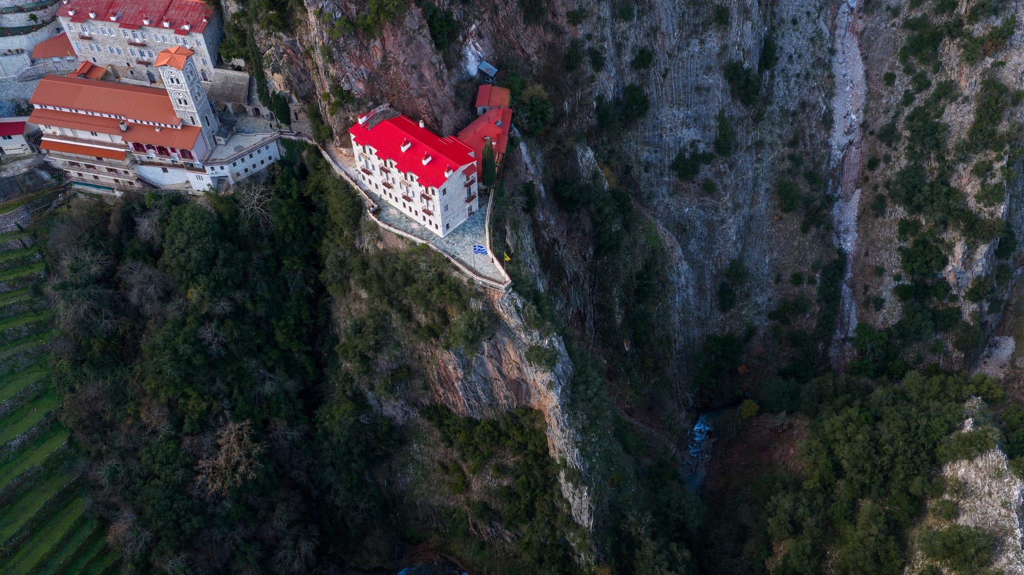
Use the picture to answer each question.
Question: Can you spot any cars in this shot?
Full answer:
No, this view has no car in it.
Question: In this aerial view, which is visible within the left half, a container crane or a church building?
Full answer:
It is a church building that can be seen within the left half.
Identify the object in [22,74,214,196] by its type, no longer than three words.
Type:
church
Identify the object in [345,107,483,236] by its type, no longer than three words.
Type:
building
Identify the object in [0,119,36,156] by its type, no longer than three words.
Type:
house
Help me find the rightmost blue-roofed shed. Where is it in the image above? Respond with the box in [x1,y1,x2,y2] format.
[478,60,498,84]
